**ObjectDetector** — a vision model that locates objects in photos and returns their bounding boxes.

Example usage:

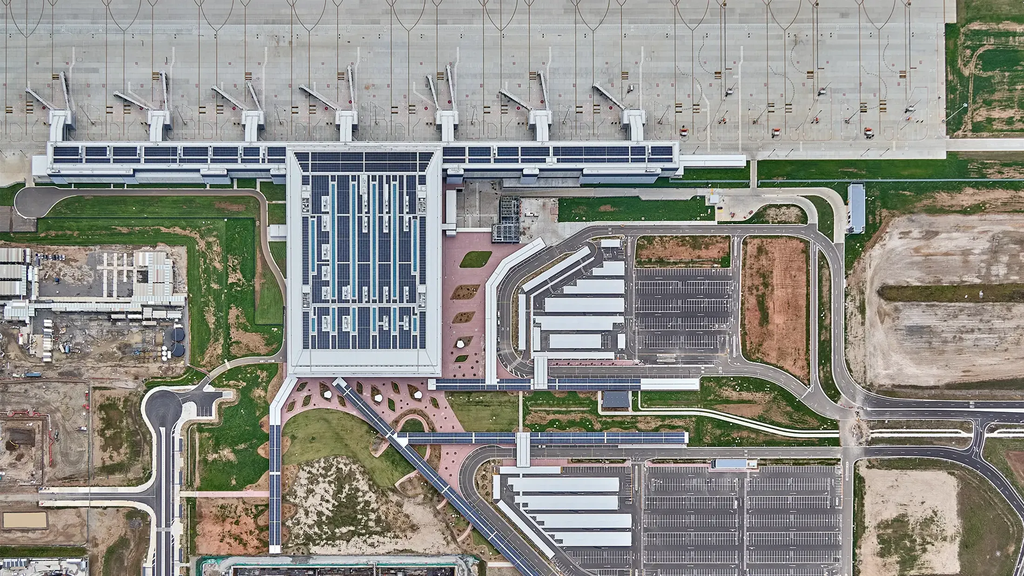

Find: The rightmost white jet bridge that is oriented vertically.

[536,69,550,110]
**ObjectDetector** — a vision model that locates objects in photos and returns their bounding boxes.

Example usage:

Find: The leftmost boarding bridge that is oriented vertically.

[58,70,73,113]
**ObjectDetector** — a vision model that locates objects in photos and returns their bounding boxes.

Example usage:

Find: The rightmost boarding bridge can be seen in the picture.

[591,82,628,114]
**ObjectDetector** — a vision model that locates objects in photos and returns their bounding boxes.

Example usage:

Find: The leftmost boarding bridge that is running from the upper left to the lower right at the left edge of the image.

[23,87,56,110]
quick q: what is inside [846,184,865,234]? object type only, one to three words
building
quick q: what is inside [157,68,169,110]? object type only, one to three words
jet bridge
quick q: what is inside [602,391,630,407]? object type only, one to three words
building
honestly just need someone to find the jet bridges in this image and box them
[23,87,56,110]
[443,64,456,111]
[297,84,338,114]
[111,91,151,112]
[345,64,356,111]
[536,69,550,110]
[591,82,628,114]
[245,80,264,111]
[58,70,73,113]
[157,68,169,110]
[209,85,245,113]
[498,88,533,113]
[424,73,440,113]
